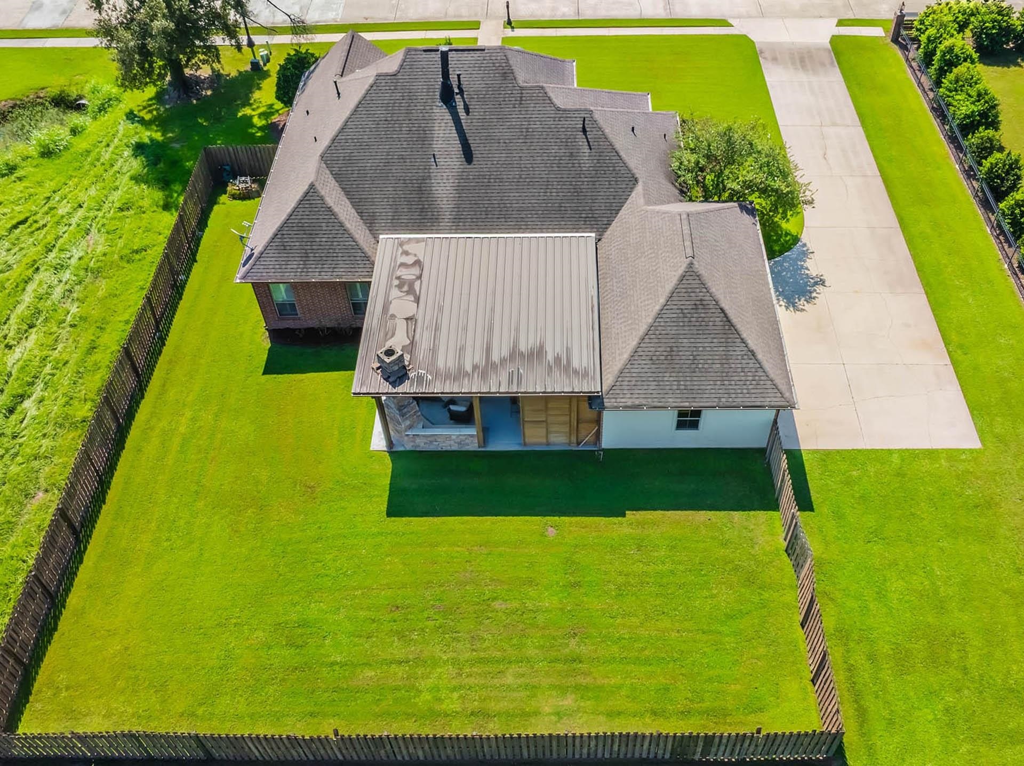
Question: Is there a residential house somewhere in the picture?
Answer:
Yes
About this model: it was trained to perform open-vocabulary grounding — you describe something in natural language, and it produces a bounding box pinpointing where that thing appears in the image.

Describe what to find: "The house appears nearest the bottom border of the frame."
[231,29,801,453]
